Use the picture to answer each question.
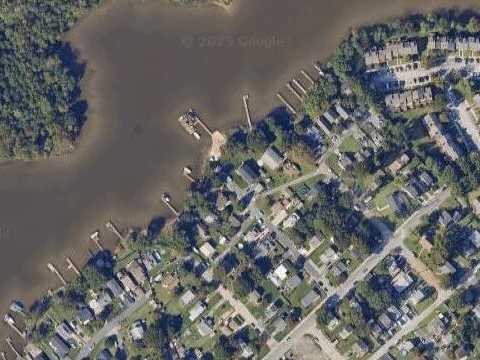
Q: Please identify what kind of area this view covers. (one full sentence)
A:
This image shows a residential area.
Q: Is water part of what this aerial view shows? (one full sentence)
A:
Yes, there is water in the image.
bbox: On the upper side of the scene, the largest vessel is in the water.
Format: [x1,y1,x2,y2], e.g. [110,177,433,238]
[178,116,195,137]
